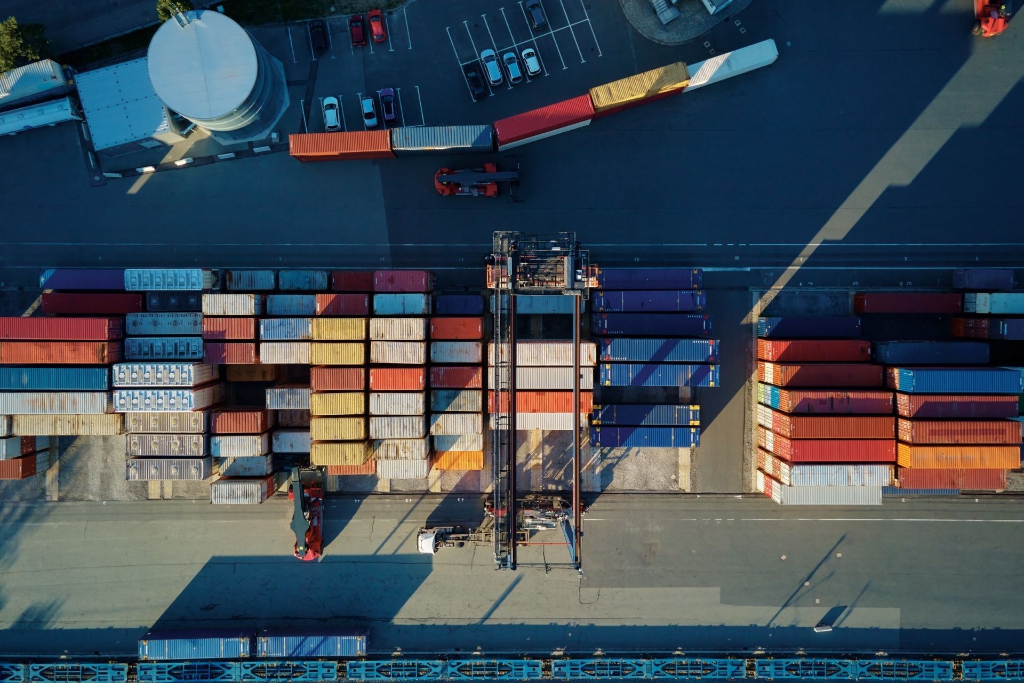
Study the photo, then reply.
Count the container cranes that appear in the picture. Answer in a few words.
1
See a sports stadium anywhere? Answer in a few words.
No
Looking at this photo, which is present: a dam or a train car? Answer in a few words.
train car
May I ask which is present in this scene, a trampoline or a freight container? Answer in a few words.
freight container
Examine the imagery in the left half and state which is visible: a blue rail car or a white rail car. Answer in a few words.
blue rail car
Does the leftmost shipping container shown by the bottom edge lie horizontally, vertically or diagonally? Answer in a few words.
horizontally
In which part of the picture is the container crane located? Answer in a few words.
center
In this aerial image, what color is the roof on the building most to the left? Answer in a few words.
blue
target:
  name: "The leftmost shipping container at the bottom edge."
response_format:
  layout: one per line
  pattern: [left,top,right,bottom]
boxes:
[140,631,255,658]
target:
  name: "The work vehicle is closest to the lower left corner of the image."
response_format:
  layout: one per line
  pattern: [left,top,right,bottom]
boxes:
[279,474,327,562]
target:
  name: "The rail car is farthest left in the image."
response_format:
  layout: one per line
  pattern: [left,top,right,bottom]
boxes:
[0,661,29,682]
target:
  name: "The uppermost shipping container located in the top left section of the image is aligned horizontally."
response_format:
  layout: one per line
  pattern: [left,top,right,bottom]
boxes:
[0,58,64,102]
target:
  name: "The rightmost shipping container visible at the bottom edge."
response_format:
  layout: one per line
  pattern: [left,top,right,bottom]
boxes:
[258,629,369,657]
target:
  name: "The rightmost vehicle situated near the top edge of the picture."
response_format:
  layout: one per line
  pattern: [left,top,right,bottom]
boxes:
[971,0,1013,38]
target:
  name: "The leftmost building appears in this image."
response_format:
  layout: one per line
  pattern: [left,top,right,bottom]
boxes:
[76,56,183,157]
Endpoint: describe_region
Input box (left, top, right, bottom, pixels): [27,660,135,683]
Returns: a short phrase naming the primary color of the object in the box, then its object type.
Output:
blue rail car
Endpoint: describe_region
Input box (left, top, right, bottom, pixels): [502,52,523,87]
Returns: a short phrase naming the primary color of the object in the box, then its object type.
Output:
blue car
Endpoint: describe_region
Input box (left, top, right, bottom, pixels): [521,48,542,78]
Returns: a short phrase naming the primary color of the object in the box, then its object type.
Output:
blue car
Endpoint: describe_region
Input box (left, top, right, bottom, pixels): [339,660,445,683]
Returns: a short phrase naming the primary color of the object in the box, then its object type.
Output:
blue rail car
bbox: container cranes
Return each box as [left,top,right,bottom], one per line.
[485,228,598,585]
